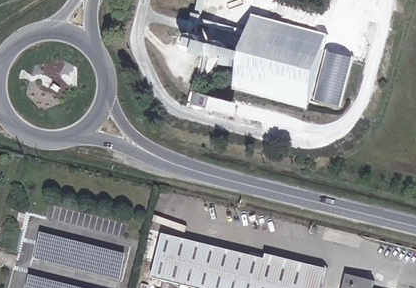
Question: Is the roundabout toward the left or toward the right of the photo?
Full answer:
The roundabout appears in the left half of the scene.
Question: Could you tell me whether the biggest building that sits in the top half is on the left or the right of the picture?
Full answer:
It is on the right.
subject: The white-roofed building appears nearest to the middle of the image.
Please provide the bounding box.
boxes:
[190,92,237,114]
